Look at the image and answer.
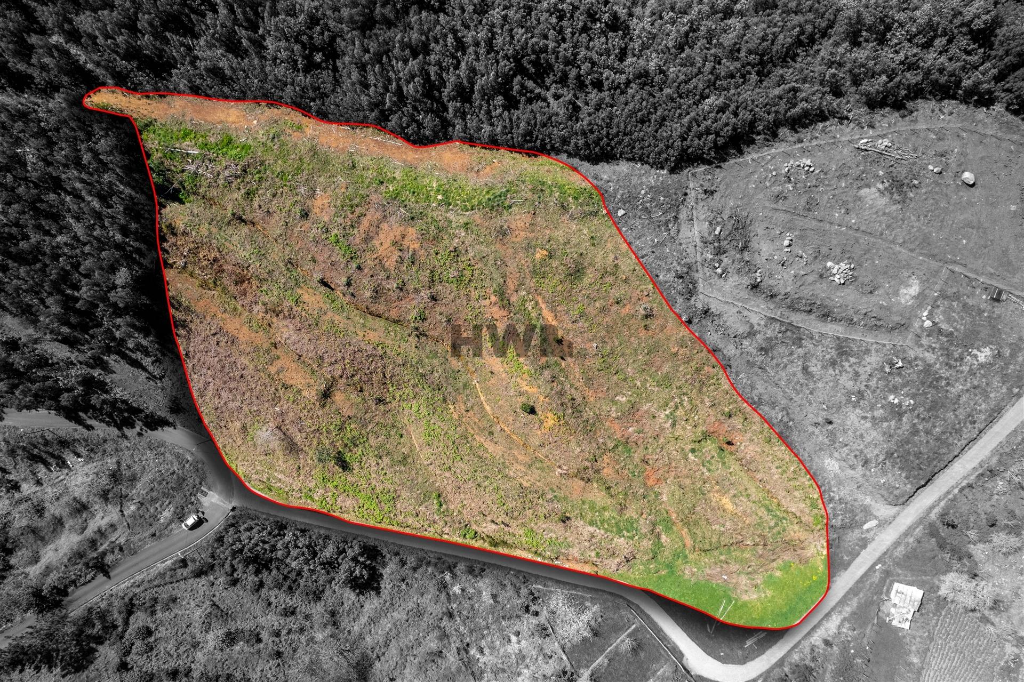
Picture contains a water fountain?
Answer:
No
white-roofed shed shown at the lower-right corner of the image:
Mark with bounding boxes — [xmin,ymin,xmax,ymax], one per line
[888,583,924,628]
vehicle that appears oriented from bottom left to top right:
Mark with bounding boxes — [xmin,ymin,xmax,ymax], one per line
[179,515,202,533]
